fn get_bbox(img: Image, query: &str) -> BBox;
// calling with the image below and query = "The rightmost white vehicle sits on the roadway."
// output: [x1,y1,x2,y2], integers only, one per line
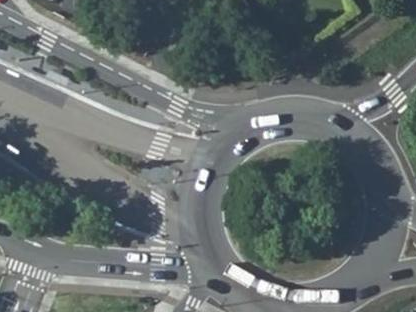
[356,95,380,110]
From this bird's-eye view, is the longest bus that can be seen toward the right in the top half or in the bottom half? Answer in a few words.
bottom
